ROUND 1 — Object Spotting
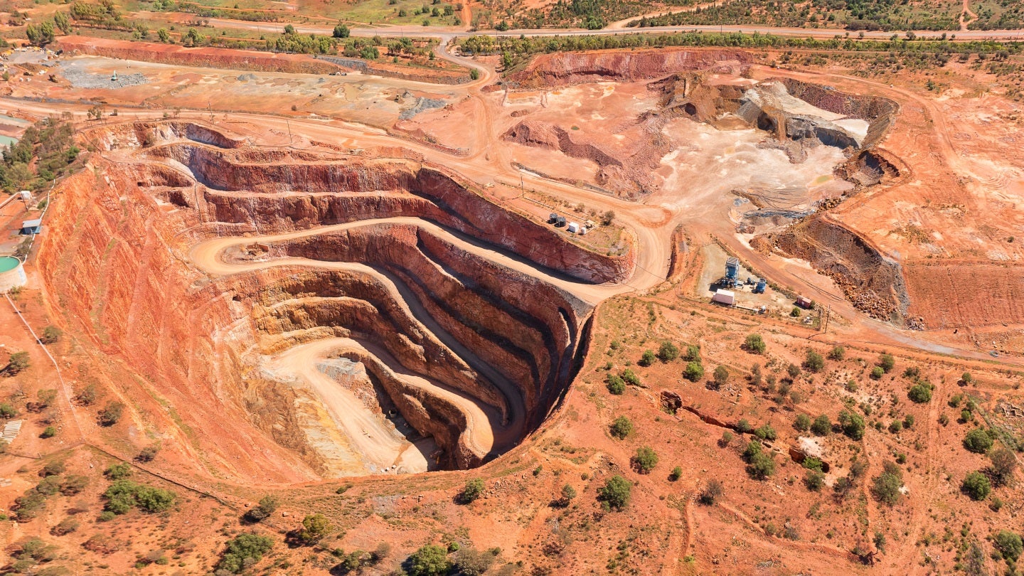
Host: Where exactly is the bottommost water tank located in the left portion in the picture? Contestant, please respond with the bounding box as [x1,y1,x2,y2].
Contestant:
[0,256,27,293]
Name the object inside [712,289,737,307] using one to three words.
shed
